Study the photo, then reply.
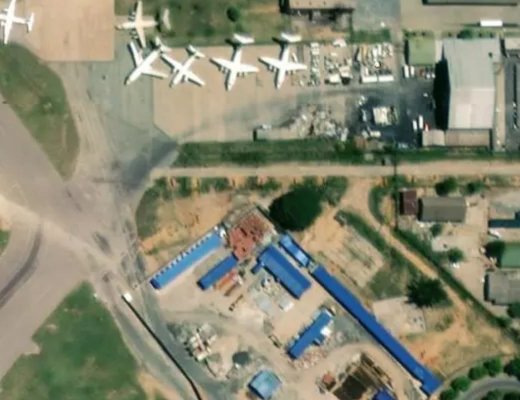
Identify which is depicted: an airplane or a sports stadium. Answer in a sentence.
The image shows an airplane.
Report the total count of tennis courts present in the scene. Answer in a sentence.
I count no tennis courts.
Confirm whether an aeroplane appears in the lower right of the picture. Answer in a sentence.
No, no aeroplane is visible in the lower right of the picture.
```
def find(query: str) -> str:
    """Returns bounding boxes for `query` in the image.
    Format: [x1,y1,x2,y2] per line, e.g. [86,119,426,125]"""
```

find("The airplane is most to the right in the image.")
[262,36,308,87]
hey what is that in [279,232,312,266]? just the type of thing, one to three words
shed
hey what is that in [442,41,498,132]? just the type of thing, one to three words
hangar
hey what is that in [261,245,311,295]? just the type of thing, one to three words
shed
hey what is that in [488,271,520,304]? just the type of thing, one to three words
house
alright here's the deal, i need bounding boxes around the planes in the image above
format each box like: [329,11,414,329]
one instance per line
[0,0,34,43]
[214,37,261,88]
[262,36,308,87]
[167,43,210,86]
[117,0,168,46]
[126,37,171,82]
